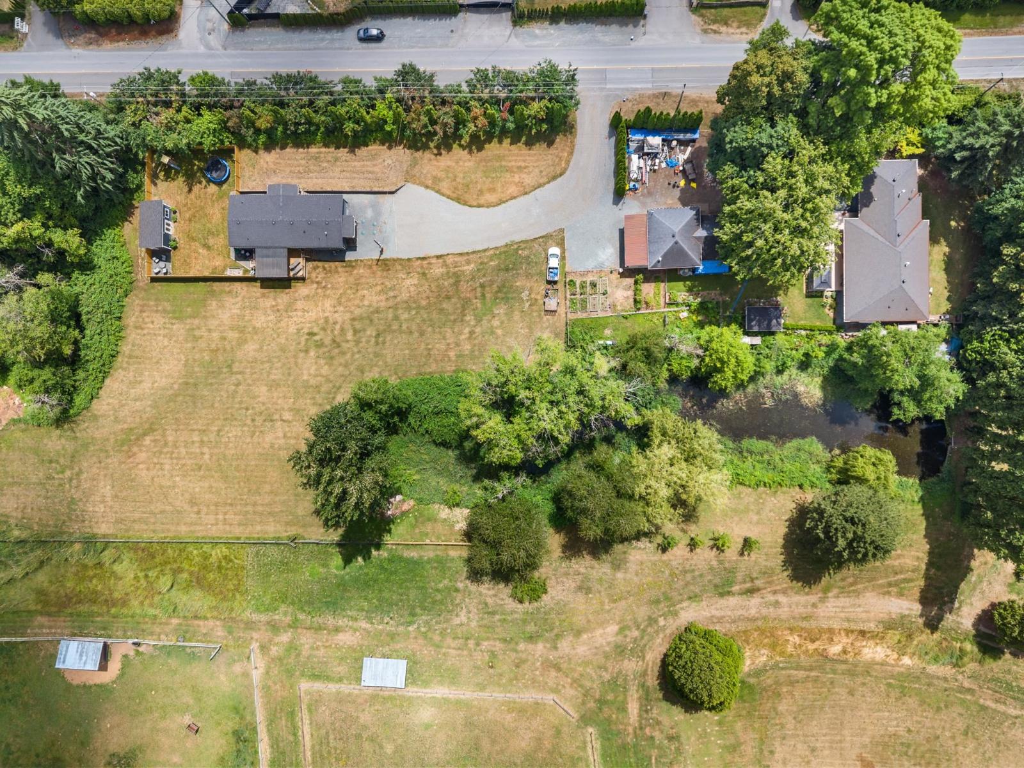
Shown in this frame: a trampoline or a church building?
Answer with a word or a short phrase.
trampoline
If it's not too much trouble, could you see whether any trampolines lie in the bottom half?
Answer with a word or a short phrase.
No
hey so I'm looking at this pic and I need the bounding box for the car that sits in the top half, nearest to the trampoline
[357,28,386,43]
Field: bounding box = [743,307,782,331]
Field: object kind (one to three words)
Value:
shed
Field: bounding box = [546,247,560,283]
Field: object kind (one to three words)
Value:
vehicle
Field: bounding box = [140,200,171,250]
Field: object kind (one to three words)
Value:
shed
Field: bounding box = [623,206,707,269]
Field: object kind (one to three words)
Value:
building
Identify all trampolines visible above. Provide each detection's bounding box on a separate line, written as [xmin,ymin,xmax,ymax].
[201,154,232,183]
